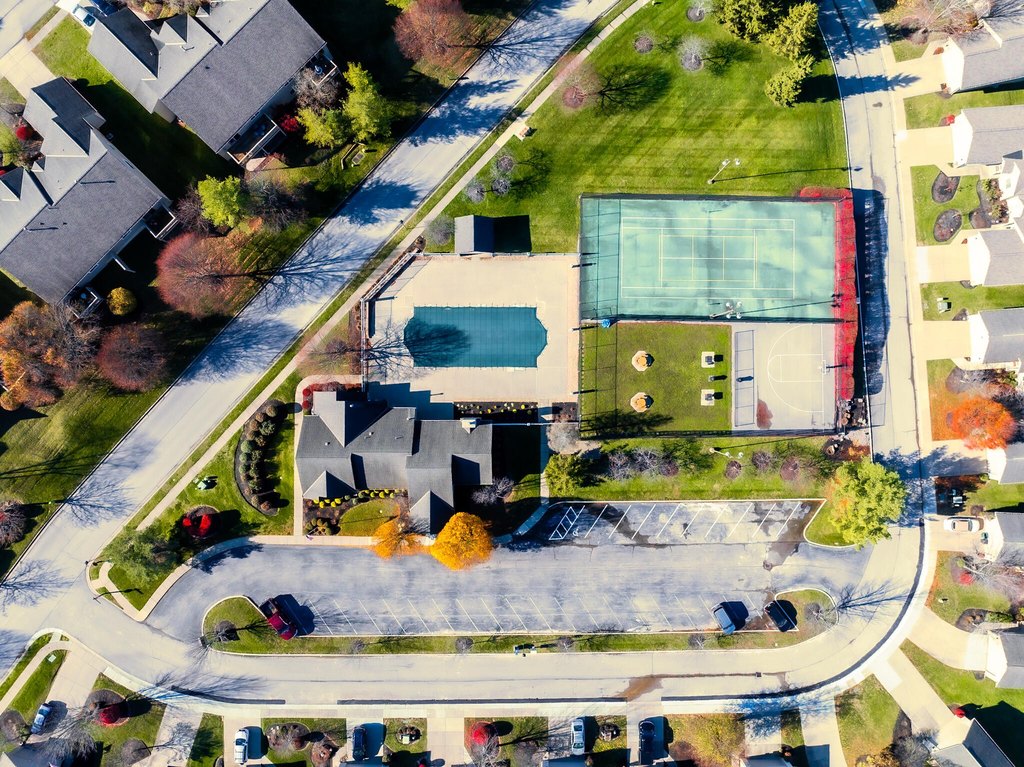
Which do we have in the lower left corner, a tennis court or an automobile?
automobile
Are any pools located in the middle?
Yes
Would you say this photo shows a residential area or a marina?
residential area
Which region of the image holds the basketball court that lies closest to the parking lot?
right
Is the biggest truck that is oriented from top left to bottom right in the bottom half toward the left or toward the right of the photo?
left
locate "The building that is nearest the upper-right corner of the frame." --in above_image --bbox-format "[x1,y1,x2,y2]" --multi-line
[939,9,1024,100]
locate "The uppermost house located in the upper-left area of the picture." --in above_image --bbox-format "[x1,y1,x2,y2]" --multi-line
[92,0,342,170]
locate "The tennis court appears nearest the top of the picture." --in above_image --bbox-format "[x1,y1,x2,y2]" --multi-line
[582,201,838,320]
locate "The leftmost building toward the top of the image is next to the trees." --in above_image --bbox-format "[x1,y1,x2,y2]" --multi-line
[0,81,186,321]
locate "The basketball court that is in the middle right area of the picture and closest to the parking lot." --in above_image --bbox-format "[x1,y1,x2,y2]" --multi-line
[732,324,838,433]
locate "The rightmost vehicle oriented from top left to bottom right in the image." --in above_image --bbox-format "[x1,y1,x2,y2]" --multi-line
[764,602,794,635]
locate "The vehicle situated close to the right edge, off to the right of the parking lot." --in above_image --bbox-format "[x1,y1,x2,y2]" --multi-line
[943,517,982,535]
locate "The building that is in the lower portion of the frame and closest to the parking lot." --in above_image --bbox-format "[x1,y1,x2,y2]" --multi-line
[296,391,493,537]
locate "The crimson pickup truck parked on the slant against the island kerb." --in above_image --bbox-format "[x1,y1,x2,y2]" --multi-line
[259,599,294,642]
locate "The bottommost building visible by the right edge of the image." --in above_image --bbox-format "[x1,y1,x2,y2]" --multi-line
[922,714,1010,767]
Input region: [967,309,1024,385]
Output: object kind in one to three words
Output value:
house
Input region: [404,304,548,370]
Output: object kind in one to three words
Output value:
swimming pool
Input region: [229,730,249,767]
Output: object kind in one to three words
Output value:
car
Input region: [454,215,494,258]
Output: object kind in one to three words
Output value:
shed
